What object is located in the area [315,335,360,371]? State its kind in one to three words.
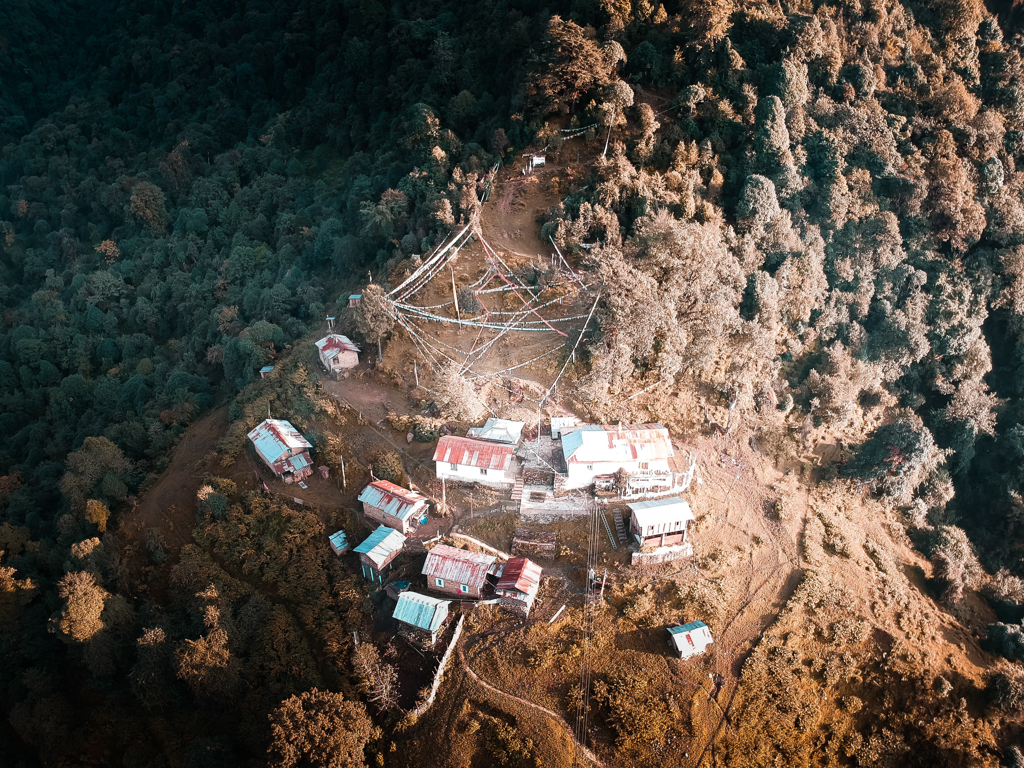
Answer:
building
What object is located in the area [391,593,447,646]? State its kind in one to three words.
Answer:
shed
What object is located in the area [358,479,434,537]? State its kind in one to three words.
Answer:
house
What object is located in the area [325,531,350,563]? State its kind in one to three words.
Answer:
shed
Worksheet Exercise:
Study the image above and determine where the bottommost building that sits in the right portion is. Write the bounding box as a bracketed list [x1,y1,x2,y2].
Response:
[668,621,713,660]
